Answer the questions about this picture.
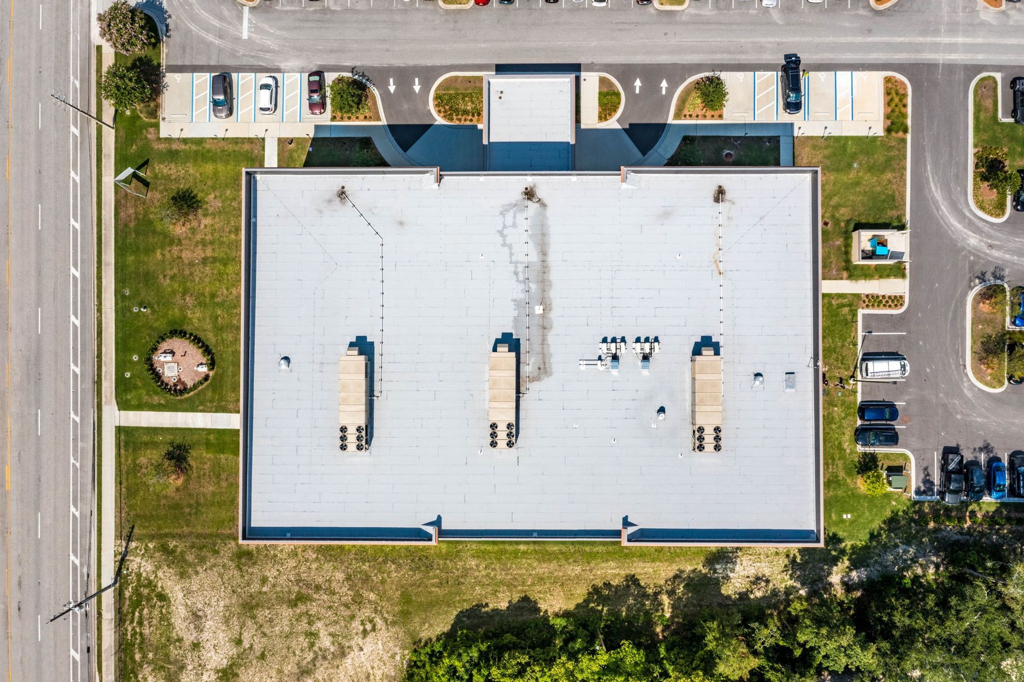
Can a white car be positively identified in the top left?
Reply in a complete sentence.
Yes, looking in the top left, one can make out a white car.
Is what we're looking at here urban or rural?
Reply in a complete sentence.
It looks urban.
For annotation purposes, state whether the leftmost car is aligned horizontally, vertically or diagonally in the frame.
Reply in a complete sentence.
The leftmost car runs vertically in the image.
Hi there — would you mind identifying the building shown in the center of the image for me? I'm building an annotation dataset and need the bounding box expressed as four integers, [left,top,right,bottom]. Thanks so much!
[239,75,823,547]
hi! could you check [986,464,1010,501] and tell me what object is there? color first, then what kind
blue car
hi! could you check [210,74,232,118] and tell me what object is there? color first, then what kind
gray car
